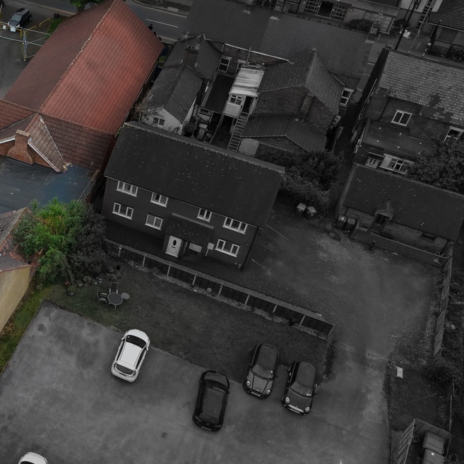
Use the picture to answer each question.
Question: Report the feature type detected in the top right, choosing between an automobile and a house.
house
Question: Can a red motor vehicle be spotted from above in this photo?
No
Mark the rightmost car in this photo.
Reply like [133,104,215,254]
[280,360,318,415]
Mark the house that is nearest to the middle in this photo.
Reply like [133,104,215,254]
[98,117,285,272]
